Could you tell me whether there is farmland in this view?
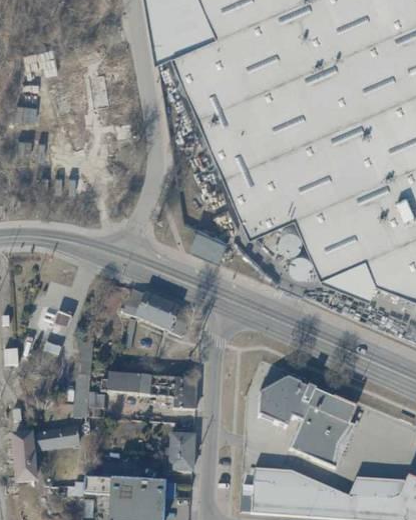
No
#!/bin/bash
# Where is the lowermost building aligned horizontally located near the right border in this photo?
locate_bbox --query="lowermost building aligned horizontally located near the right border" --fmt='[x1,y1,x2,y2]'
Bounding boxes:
[252,468,416,520]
